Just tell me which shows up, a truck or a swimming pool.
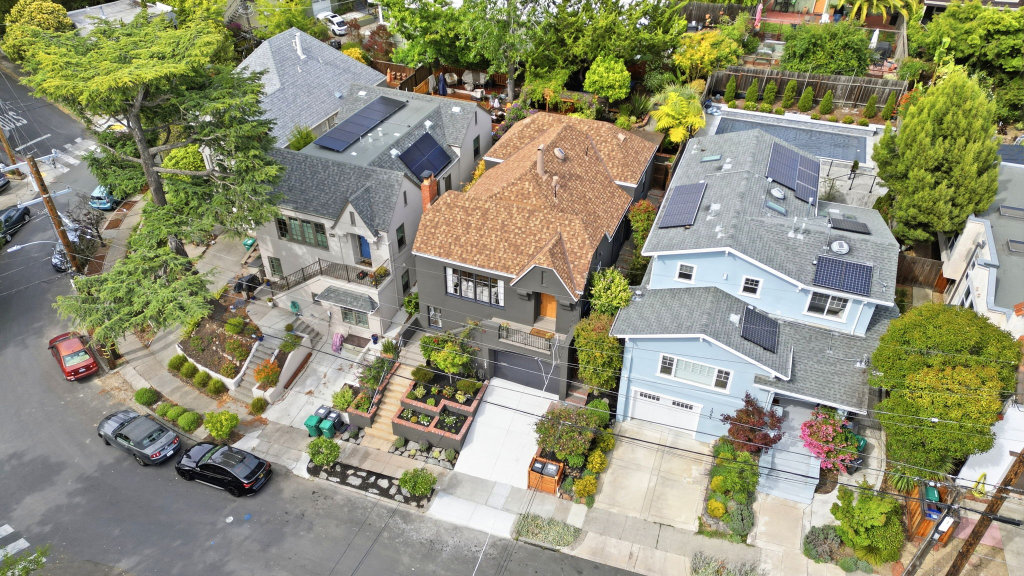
swimming pool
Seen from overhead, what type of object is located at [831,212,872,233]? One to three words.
solar panel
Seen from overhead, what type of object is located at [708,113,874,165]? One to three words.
swimming pool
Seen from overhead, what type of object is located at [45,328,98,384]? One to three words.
car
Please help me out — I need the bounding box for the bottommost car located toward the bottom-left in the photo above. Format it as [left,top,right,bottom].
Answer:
[172,441,271,498]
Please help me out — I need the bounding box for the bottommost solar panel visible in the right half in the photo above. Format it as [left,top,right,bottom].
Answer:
[741,305,781,352]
